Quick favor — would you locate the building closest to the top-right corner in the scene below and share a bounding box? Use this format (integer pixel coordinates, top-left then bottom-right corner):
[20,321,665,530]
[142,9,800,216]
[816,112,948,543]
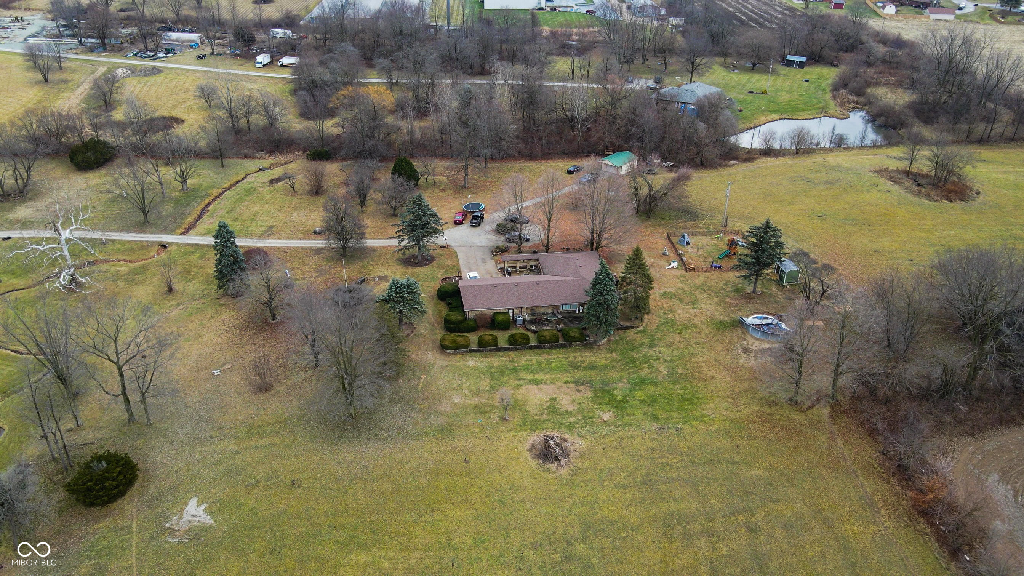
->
[925,7,957,20]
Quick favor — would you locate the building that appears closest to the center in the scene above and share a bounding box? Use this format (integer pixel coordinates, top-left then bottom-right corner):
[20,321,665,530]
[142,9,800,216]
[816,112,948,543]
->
[460,250,620,322]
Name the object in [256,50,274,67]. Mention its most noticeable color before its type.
white vehicle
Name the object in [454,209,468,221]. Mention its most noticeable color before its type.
red vehicle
